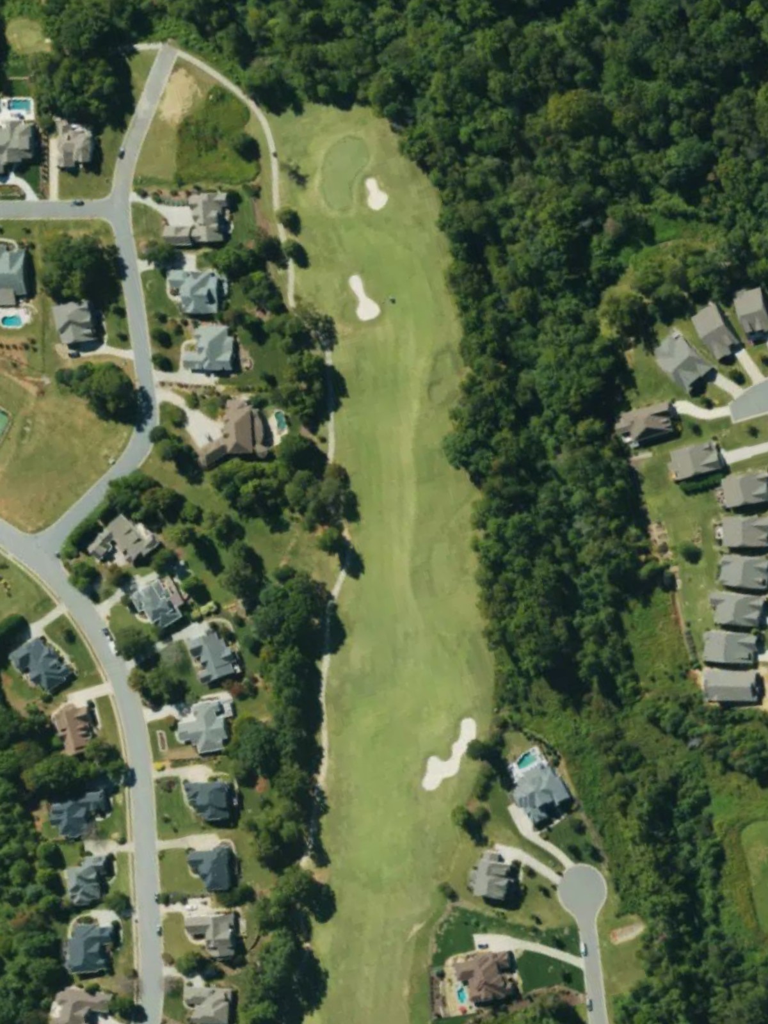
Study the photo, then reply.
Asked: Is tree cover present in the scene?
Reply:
Yes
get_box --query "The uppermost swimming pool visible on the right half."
[517,750,536,769]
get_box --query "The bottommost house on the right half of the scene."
[454,947,517,1002]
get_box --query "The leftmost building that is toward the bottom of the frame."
[9,636,71,694]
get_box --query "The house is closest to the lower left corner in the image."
[53,983,114,1024]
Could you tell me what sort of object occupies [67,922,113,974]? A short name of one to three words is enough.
house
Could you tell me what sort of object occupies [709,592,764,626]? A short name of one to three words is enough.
house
